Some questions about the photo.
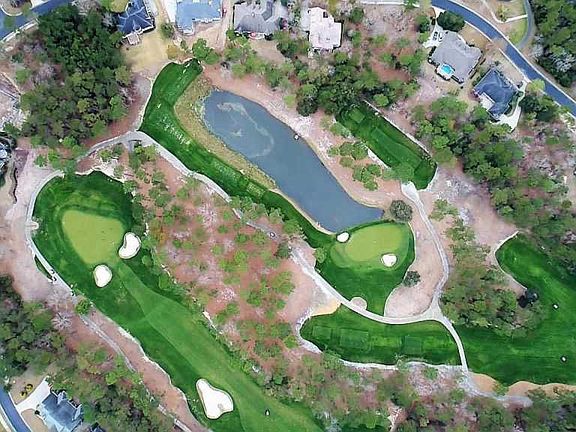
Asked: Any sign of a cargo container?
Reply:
No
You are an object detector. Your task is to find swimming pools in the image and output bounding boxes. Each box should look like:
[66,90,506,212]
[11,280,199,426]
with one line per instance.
[436,63,453,79]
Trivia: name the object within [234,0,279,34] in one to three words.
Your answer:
house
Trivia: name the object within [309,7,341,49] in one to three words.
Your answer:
house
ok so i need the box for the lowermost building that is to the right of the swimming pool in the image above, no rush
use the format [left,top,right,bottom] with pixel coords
[471,69,518,118]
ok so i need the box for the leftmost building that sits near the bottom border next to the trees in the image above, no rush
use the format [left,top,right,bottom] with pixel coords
[35,393,84,432]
